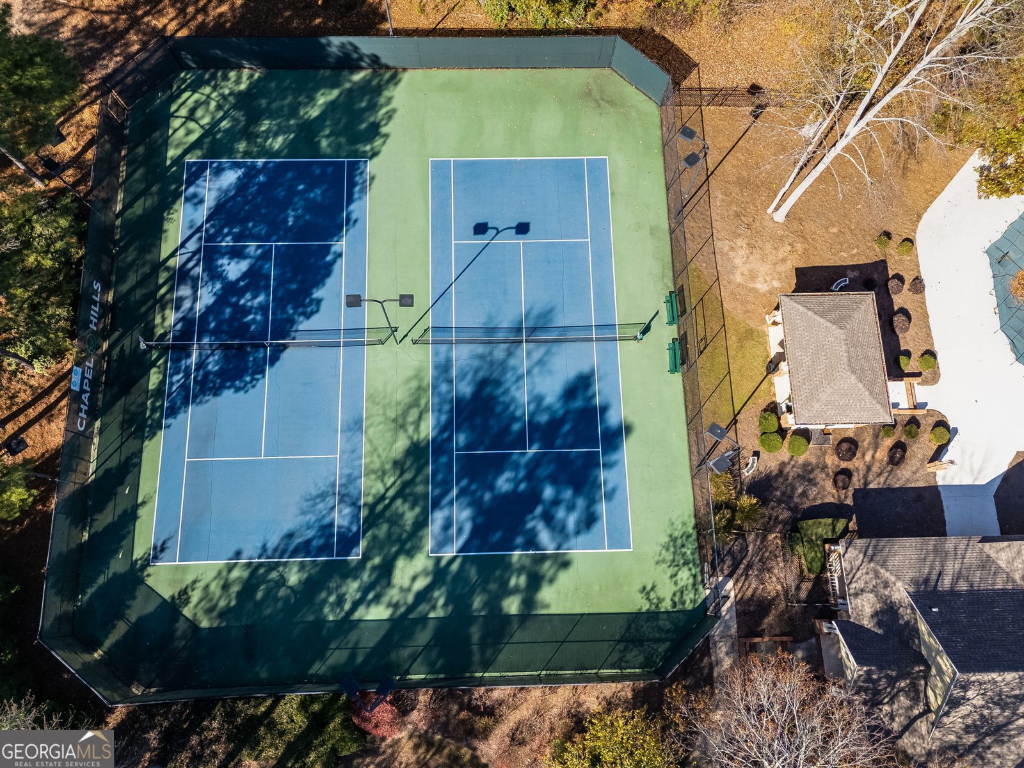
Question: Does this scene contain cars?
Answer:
No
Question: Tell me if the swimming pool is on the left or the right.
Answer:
right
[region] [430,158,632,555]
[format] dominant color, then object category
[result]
blue tennis court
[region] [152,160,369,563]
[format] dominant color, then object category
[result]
blue tennis court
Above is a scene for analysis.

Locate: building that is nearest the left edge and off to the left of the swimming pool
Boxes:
[764,290,897,432]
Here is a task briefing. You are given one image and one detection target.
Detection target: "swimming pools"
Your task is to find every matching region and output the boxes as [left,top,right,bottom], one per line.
[984,215,1024,363]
